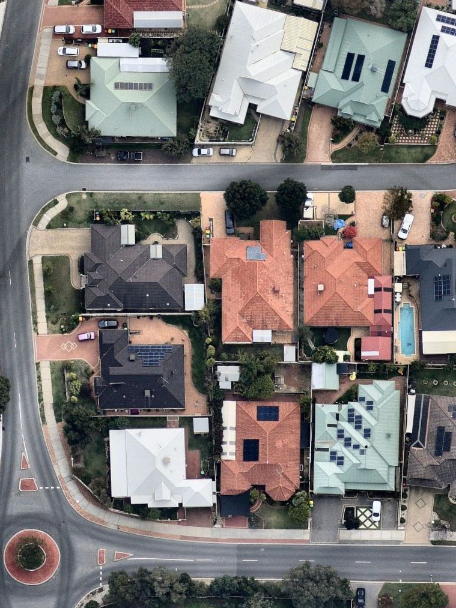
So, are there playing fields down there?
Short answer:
No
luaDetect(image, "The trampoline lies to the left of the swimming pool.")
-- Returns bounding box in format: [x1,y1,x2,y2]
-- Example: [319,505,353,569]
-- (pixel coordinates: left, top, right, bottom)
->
[327,327,342,345]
